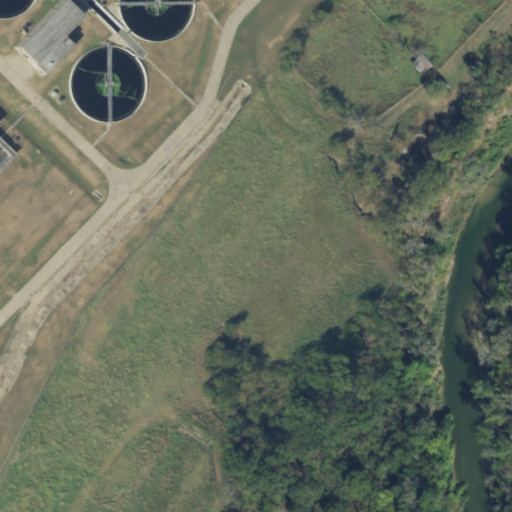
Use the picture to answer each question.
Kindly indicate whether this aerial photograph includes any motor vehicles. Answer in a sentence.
No, there is no motor vehicle in the image.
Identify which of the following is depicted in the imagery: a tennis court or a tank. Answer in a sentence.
There is a tank in the scene.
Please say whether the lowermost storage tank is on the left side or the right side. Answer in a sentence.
You can find the lowermost storage tank on the left side of the picture.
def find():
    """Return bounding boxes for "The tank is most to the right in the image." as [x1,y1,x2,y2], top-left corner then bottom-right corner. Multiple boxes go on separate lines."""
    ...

[116,0,198,43]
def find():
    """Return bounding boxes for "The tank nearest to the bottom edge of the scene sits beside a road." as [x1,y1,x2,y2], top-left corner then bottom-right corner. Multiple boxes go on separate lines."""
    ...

[68,42,148,125]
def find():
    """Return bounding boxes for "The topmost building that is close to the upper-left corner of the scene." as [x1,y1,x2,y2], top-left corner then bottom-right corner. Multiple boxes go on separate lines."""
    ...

[18,0,88,76]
